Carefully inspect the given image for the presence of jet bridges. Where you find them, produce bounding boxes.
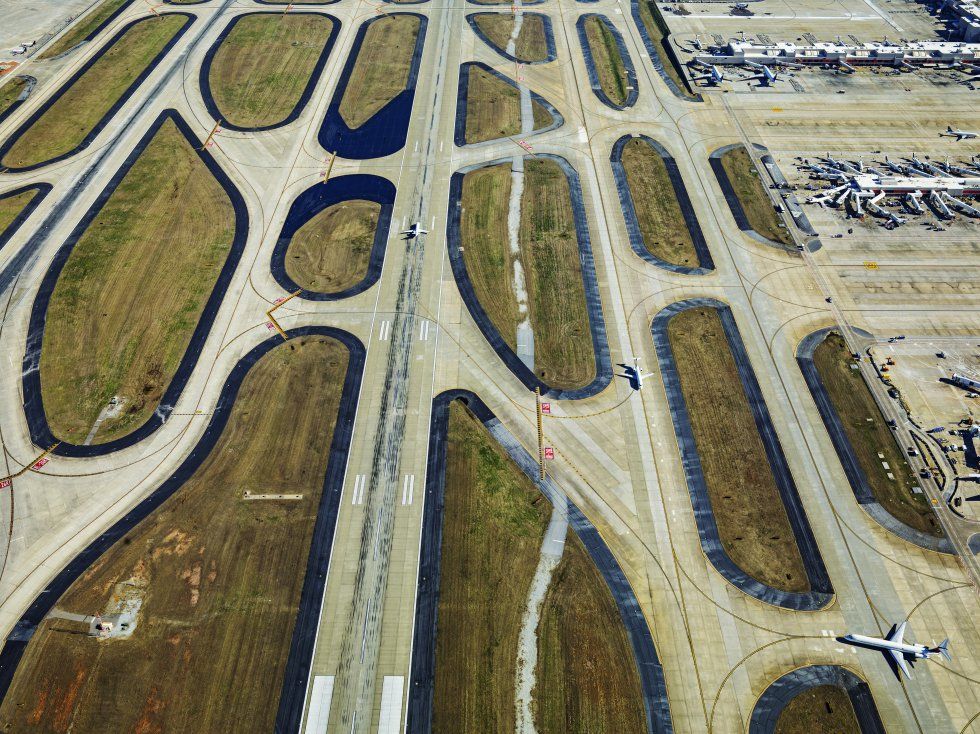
[835,187,854,207]
[906,190,924,214]
[838,58,857,75]
[820,182,853,196]
[900,58,918,72]
[774,59,807,71]
[837,161,864,176]
[929,189,954,219]
[958,59,980,73]
[864,166,887,178]
[922,161,954,178]
[869,189,905,226]
[854,190,876,217]
[744,58,765,71]
[948,164,980,176]
[900,166,937,178]
[695,58,713,70]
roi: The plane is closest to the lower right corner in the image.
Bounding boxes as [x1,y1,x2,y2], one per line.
[843,621,954,681]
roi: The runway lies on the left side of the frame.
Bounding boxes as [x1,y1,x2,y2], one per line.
[299,0,464,734]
